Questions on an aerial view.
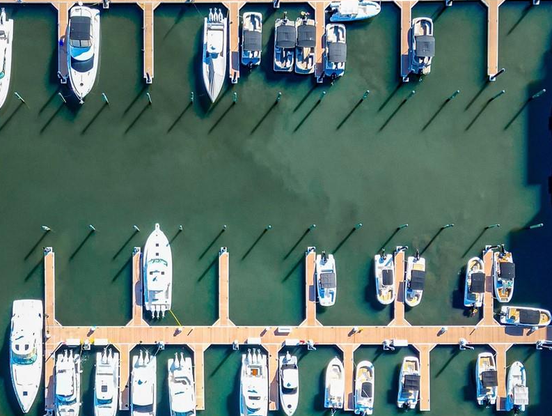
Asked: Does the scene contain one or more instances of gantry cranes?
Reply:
No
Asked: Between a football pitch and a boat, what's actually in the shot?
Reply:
boat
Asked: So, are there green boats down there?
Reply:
No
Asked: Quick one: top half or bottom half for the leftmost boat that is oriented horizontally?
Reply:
top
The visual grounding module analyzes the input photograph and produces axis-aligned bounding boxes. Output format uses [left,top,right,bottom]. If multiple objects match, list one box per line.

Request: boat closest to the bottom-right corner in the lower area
[506,360,529,416]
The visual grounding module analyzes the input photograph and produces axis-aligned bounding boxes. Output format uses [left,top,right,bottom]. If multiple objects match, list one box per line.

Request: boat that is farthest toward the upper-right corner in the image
[409,17,436,82]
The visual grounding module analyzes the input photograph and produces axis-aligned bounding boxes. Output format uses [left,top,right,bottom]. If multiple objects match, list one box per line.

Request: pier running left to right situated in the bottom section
[45,327,552,345]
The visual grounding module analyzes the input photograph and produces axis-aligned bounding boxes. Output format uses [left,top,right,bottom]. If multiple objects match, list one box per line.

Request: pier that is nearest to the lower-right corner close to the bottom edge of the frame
[489,345,514,411]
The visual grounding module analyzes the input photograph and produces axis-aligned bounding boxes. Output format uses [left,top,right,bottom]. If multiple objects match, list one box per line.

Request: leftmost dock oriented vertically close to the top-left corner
[50,2,75,81]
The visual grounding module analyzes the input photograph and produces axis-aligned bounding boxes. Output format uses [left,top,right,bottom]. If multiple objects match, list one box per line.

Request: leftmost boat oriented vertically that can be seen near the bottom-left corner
[10,297,46,415]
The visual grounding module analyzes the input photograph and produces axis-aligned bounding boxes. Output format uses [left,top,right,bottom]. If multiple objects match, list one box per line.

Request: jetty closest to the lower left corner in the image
[45,345,62,411]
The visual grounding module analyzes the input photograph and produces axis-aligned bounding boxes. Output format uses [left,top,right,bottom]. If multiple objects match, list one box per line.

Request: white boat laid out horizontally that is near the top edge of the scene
[326,0,382,21]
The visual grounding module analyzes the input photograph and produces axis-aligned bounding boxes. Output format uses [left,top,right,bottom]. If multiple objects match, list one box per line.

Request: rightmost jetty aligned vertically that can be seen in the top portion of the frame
[480,2,505,77]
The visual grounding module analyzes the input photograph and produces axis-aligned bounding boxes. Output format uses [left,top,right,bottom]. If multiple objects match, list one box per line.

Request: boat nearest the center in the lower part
[314,248,336,307]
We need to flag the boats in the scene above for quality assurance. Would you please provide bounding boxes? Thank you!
[200,5,226,103]
[397,356,421,413]
[238,345,269,416]
[323,357,344,416]
[240,12,261,73]
[373,248,396,305]
[278,346,299,416]
[10,297,46,415]
[273,16,296,74]
[66,4,101,106]
[323,24,347,87]
[352,360,375,416]
[54,343,82,416]
[464,257,486,314]
[314,248,336,307]
[506,360,529,416]
[494,306,552,328]
[93,341,120,416]
[326,0,382,21]
[143,223,173,320]
[402,250,427,307]
[294,15,316,76]
[475,353,499,411]
[167,347,197,416]
[130,344,157,416]
[409,17,436,82]
[491,245,516,303]
[0,8,17,110]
